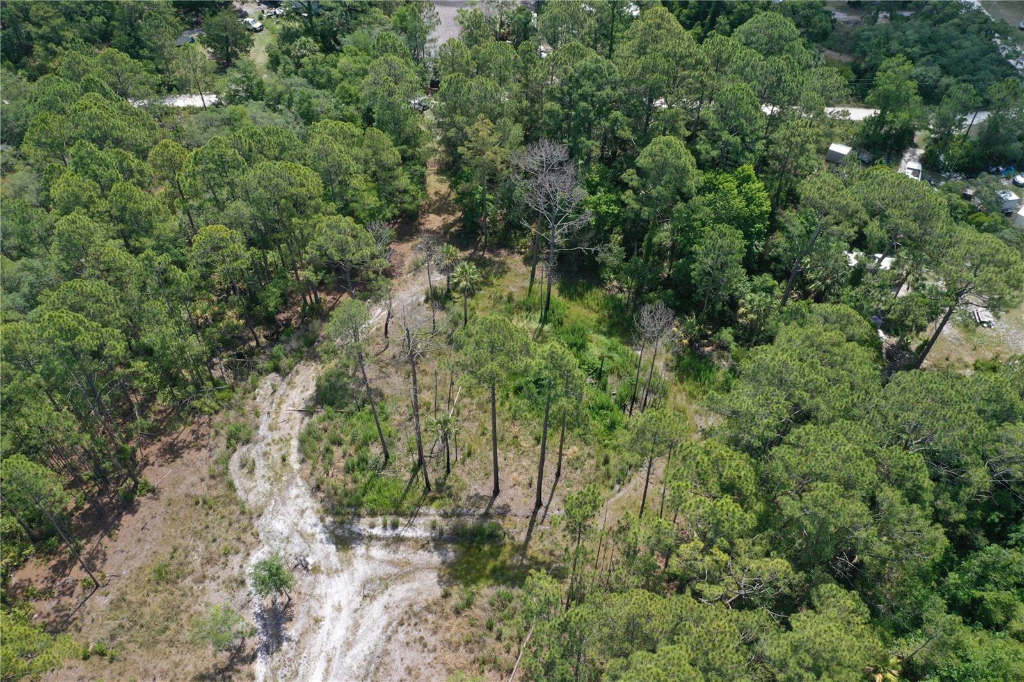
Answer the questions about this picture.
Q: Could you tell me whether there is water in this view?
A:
No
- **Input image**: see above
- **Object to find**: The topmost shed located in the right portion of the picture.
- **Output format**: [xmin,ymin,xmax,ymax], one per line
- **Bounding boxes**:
[829,142,856,165]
